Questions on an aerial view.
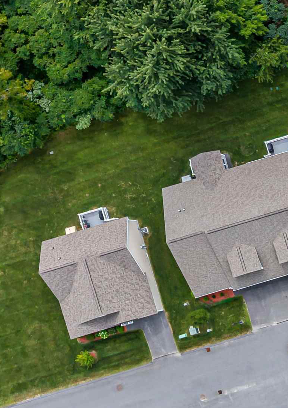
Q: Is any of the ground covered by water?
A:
No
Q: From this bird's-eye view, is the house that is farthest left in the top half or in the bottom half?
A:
bottom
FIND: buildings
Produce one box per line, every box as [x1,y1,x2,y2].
[38,208,160,339]
[164,135,288,298]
